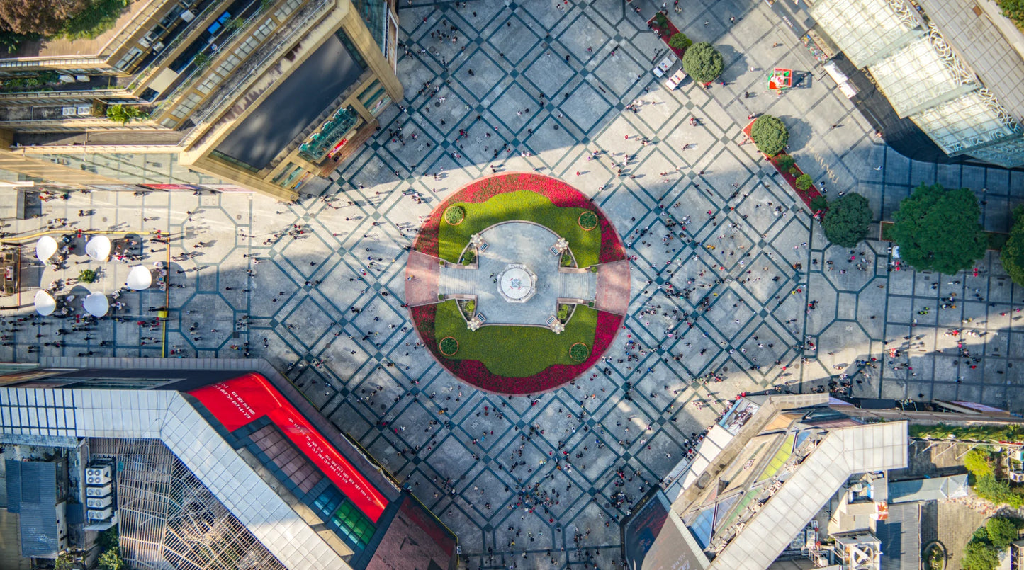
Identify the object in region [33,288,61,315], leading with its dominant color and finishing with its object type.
white umbrella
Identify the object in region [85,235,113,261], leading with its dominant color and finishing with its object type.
white umbrella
